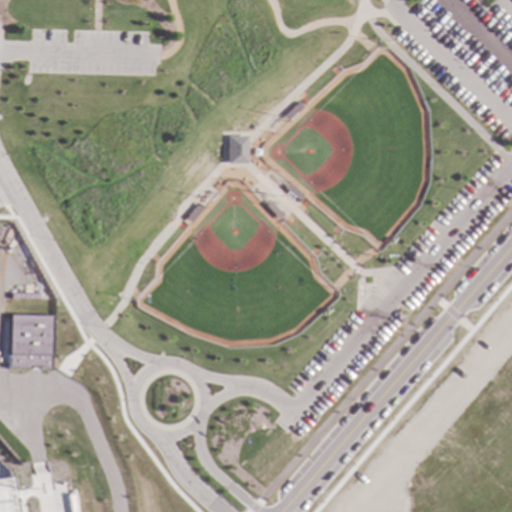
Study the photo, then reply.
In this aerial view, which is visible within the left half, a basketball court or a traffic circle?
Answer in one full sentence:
There is a traffic circle within the left half.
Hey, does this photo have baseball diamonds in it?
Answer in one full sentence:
Yes, a baseball diamond is visible in the scene.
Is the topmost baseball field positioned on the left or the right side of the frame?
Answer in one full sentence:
The topmost baseball field sits on the right side.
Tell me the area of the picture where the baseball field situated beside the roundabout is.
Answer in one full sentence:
Look in the center portion of the view to spot the baseball field situated beside the roundabout.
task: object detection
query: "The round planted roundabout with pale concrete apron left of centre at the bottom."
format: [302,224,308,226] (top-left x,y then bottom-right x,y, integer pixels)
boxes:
[130,358,212,440]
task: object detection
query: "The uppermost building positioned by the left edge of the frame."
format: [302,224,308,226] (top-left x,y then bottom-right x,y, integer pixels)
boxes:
[10,315,56,368]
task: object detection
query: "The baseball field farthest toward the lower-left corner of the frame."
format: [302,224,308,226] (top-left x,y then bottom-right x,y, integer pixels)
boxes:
[135,167,340,347]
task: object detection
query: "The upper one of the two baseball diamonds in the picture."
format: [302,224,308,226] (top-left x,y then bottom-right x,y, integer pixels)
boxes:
[256,46,432,251]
